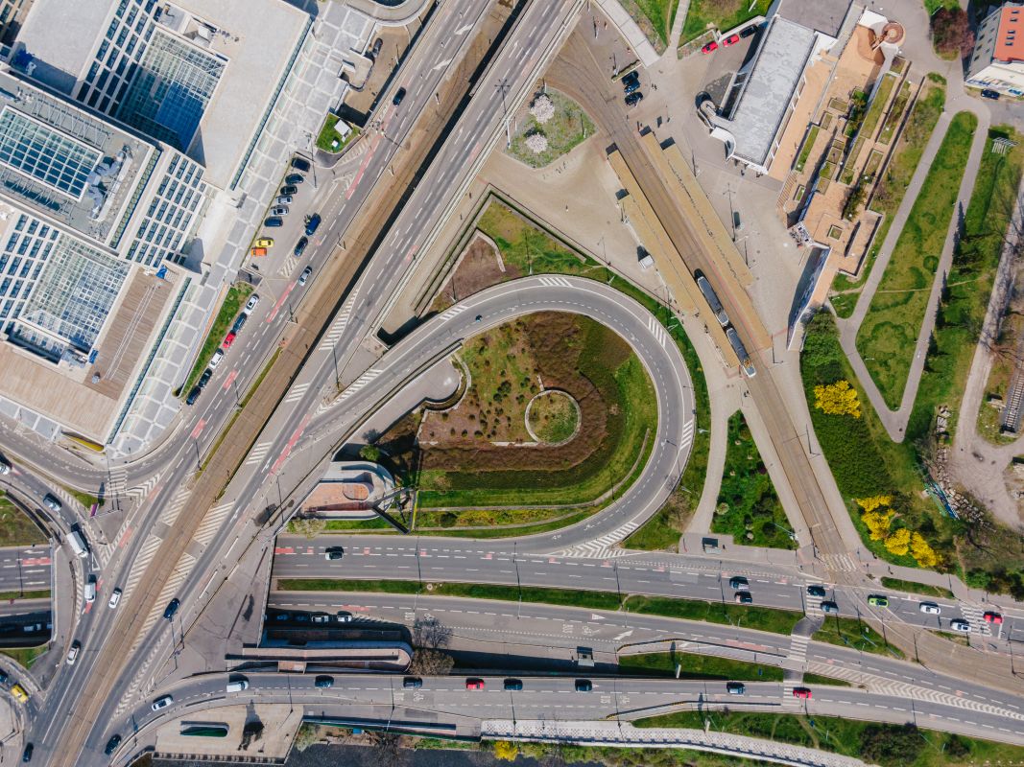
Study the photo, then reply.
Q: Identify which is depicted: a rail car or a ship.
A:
rail car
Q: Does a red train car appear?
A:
No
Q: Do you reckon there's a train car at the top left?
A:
No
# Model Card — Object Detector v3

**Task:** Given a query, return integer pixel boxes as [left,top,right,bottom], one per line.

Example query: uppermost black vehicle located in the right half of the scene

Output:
[738,24,758,38]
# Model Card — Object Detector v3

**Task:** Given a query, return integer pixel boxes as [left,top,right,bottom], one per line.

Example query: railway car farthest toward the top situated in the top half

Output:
[693,275,729,327]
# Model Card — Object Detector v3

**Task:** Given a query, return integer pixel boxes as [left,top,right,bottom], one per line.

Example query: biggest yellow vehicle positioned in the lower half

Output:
[10,684,29,703]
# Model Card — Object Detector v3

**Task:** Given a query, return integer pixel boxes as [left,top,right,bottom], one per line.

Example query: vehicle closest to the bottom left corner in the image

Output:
[23,743,35,763]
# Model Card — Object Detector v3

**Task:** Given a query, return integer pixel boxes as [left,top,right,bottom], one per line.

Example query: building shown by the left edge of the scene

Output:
[0,0,324,447]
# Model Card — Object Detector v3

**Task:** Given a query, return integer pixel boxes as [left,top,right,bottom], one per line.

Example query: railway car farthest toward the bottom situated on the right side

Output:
[722,327,757,378]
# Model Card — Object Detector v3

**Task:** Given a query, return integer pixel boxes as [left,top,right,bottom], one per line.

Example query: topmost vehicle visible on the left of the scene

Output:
[371,37,383,57]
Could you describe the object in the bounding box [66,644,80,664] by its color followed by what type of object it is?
white car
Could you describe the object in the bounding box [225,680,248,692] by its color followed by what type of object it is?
white vehicle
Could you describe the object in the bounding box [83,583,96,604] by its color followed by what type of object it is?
white vehicle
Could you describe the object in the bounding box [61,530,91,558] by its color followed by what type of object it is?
white truck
